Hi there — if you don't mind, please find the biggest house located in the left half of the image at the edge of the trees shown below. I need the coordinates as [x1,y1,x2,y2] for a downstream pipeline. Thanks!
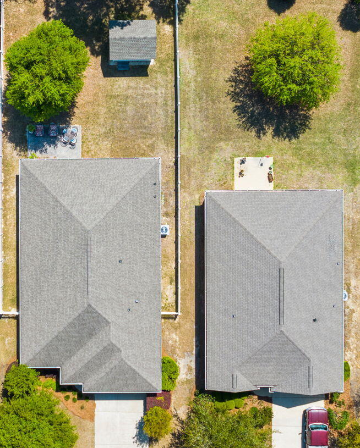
[19,159,162,394]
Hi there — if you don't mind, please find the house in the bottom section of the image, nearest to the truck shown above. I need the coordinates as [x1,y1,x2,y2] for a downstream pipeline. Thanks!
[204,190,345,396]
